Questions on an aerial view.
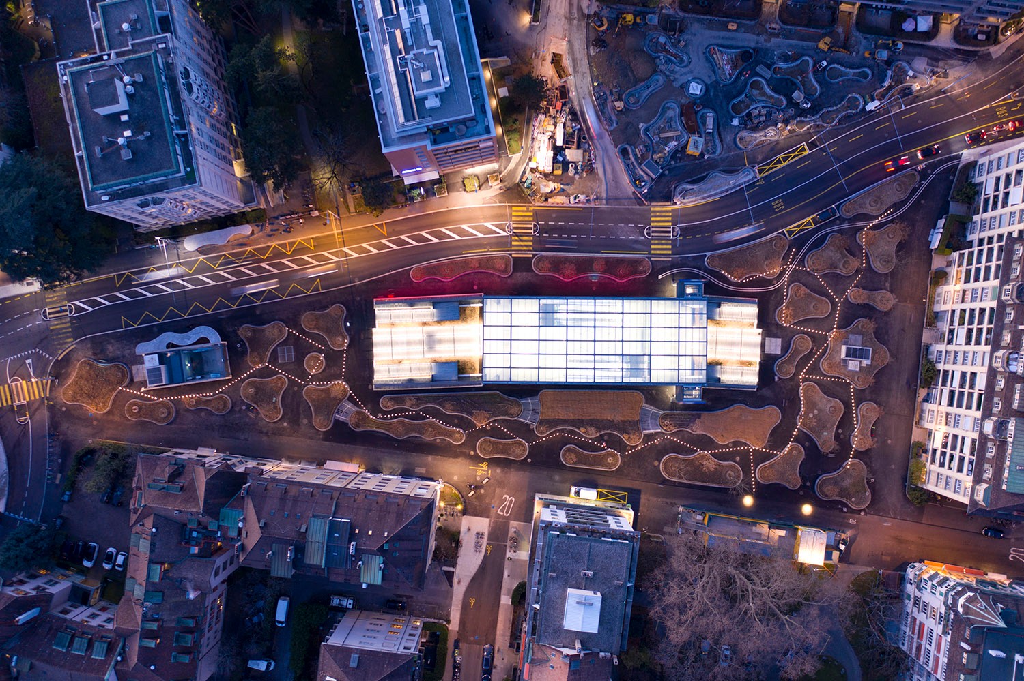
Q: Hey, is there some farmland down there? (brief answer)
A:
No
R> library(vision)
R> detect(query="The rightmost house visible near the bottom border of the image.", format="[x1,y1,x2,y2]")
[895,559,1024,681]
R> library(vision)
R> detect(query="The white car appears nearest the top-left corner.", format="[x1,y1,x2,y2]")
[148,266,174,280]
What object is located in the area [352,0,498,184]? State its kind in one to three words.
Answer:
building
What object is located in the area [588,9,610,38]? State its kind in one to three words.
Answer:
work vehicle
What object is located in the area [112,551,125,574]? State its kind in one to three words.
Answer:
vehicle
